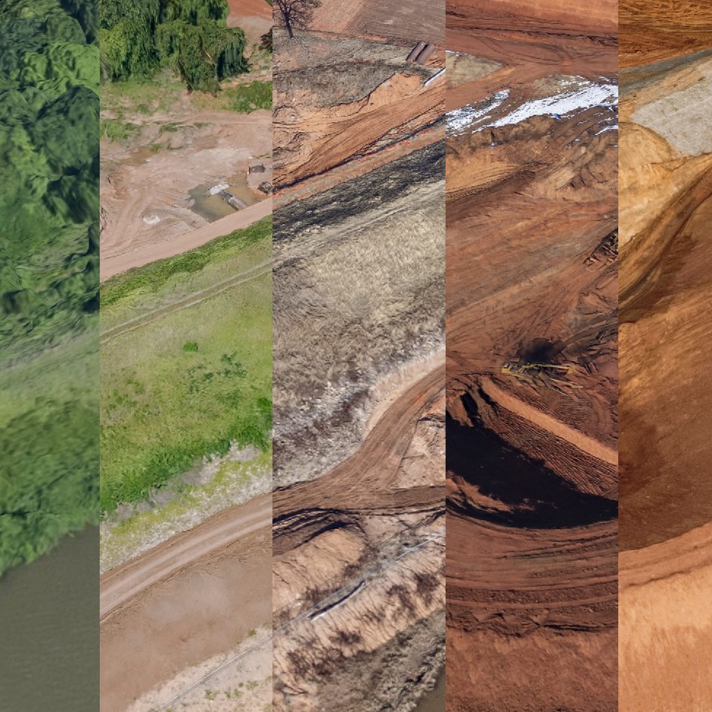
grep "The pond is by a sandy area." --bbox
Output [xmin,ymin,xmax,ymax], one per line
[188,174,267,222]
